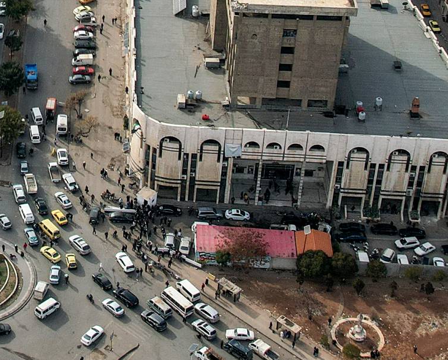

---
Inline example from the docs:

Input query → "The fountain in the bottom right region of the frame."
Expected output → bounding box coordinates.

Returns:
[329,314,386,352]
